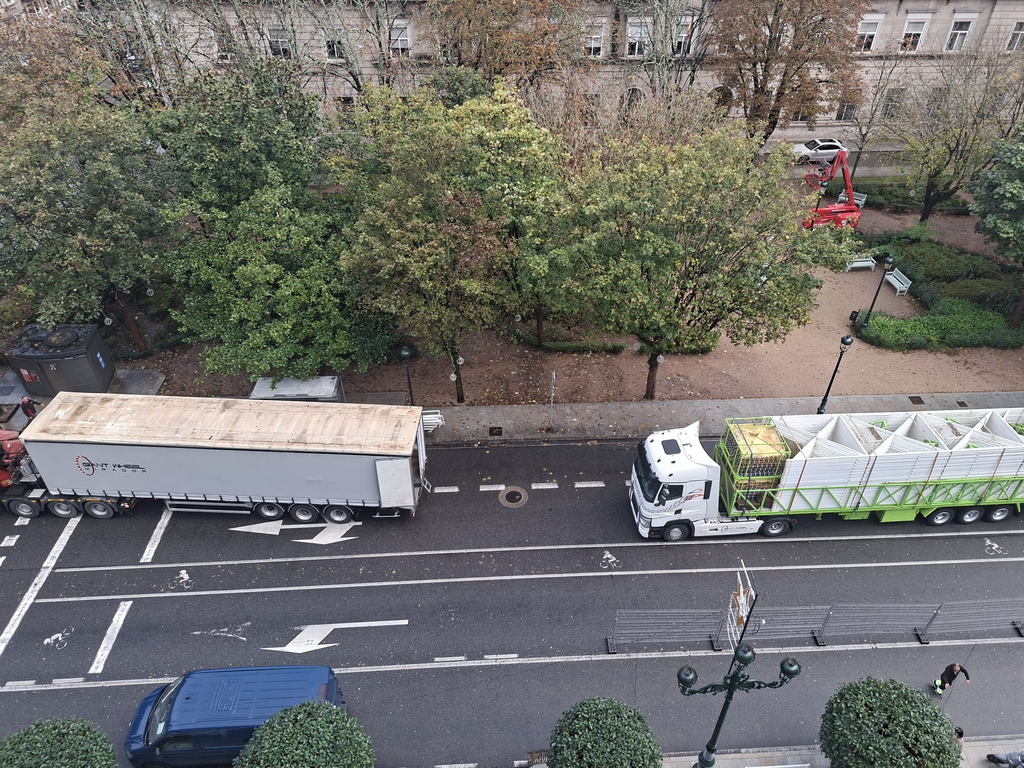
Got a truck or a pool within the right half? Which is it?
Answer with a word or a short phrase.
truck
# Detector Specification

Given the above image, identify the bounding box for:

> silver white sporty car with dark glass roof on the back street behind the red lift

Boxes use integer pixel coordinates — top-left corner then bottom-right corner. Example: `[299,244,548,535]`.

[783,140,837,166]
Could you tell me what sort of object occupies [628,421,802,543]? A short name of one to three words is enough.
truck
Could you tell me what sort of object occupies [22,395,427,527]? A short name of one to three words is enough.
trailer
